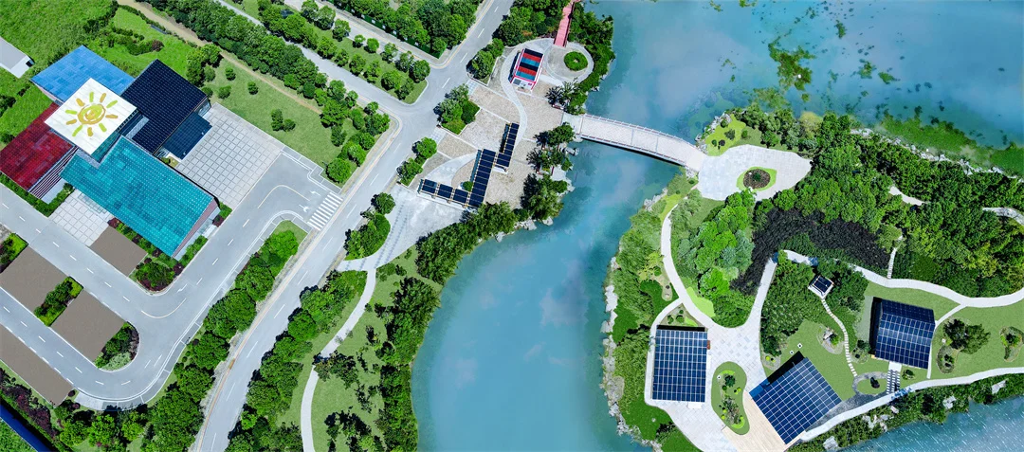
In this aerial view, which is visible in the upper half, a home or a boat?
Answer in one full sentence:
You can see a home in the upper half.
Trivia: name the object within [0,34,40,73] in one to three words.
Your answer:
shed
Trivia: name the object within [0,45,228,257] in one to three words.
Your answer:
building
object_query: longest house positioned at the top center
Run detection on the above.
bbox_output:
[510,45,547,95]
